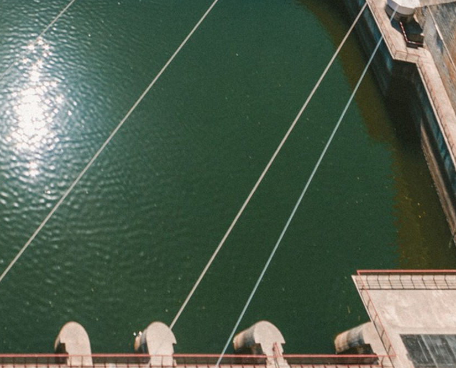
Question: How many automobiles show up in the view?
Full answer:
No automobiles are visible.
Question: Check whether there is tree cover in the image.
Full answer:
No, there is no tree cover in the image.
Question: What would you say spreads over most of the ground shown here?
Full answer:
Most of the picture is covered by water.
